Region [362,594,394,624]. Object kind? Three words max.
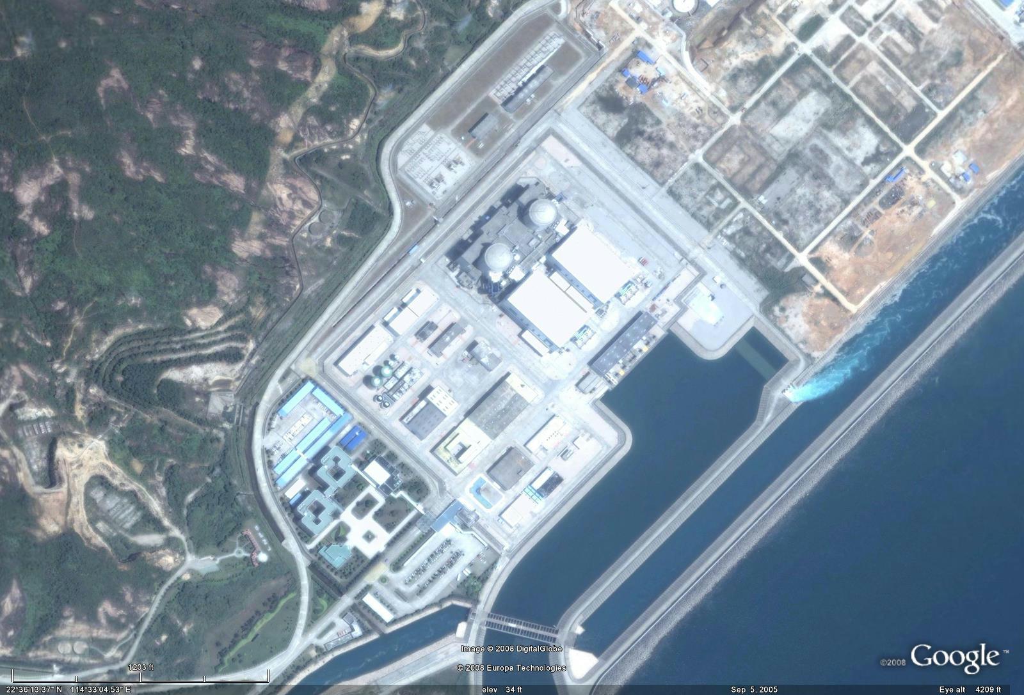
shed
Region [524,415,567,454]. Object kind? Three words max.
building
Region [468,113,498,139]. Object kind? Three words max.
building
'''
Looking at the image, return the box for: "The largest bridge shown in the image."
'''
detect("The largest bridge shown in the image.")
[485,613,559,645]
